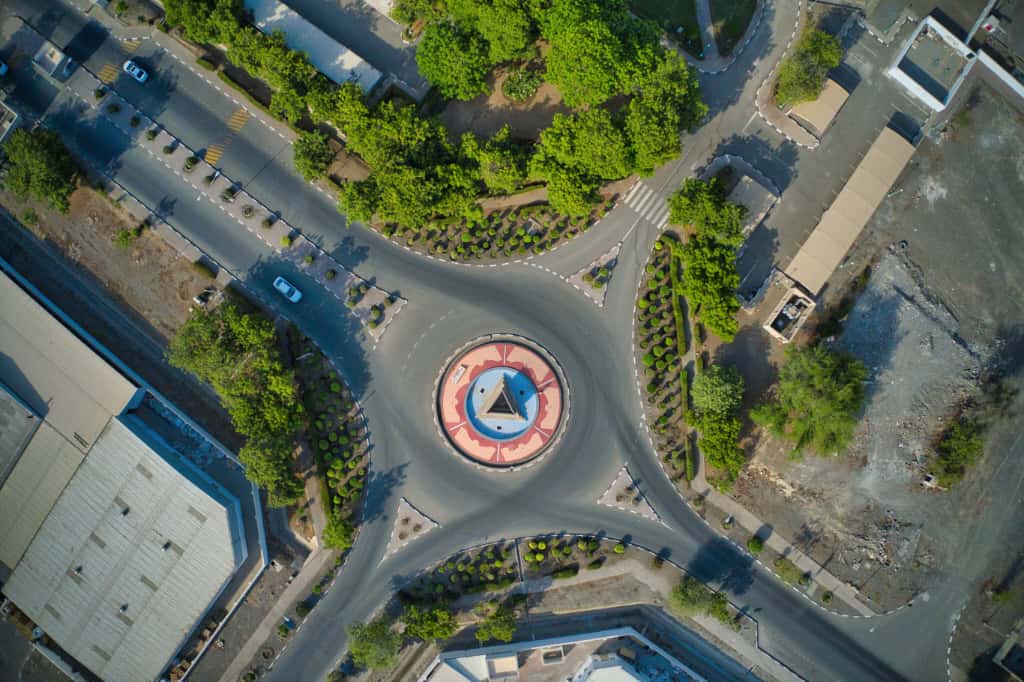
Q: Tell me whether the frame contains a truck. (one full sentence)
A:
No, the scene contains no truck.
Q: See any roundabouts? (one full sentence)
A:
Yes, I can see a roundabout in this picture.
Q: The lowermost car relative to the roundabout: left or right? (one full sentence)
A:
In the image, the lowermost car sits on the left side of the roundabout.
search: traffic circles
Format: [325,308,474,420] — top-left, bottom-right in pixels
[370,270,633,534]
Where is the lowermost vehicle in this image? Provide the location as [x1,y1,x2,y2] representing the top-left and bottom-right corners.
[273,276,303,303]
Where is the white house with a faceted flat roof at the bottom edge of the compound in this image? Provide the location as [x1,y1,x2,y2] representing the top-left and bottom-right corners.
[570,646,651,682]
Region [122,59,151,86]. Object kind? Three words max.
car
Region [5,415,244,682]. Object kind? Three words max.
warehouse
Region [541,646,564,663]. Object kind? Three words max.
building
